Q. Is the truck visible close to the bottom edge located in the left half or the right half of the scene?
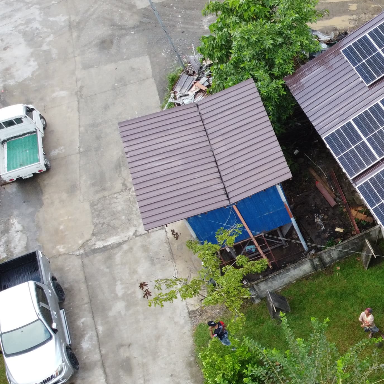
left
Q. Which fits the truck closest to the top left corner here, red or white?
white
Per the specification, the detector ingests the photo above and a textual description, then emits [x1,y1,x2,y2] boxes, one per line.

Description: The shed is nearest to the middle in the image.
[118,82,310,278]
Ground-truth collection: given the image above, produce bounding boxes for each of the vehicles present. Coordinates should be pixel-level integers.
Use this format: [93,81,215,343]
[0,250,84,384]
[0,100,54,184]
